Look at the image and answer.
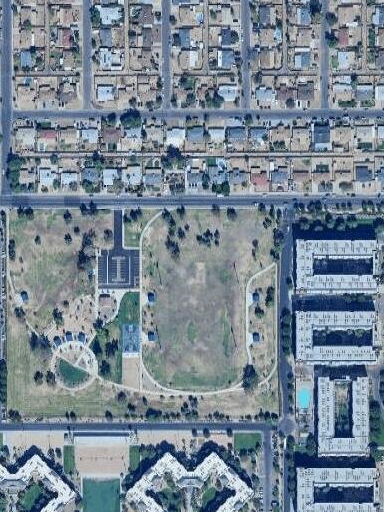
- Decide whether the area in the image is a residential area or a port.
residential area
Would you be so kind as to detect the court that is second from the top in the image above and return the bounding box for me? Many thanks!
[122,357,140,389]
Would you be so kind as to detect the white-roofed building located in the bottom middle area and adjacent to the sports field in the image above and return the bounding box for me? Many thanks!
[128,453,253,512]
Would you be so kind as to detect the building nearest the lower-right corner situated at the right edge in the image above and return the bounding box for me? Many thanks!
[295,468,376,512]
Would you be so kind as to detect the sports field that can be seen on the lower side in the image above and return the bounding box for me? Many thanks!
[81,474,122,512]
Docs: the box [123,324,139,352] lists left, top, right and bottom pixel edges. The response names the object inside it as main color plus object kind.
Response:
blue basketball court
